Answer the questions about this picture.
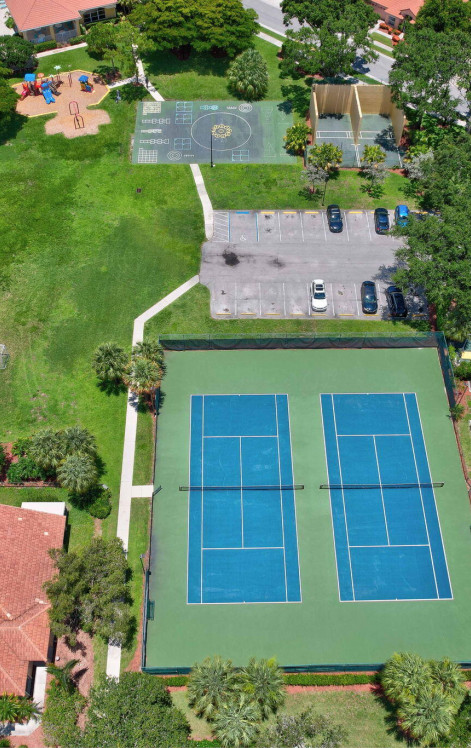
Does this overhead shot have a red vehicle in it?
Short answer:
No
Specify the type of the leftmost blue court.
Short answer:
tennis court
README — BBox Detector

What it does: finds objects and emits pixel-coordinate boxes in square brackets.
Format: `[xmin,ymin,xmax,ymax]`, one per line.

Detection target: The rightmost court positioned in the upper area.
[310,84,405,167]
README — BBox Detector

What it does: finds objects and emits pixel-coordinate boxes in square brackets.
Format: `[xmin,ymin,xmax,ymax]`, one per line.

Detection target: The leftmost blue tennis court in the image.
[180,394,304,604]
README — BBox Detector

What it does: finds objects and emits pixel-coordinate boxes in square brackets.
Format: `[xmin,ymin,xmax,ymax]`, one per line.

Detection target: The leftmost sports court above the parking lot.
[132,102,297,163]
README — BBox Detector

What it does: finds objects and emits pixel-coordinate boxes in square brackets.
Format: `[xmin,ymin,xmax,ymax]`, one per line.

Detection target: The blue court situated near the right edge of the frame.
[320,392,453,602]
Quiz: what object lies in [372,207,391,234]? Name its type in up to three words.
car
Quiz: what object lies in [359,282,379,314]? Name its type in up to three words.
car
